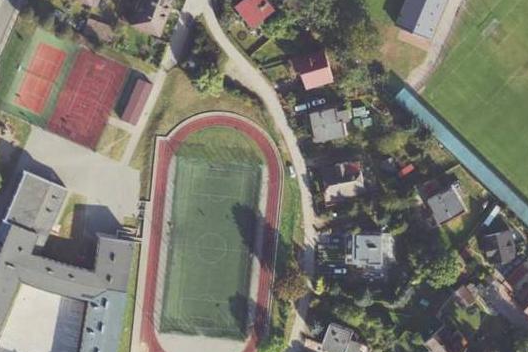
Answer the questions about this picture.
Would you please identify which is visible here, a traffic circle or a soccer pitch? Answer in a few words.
soccer pitch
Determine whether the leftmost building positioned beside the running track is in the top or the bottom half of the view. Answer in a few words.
bottom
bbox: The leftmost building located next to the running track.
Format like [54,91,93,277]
[0,171,135,352]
